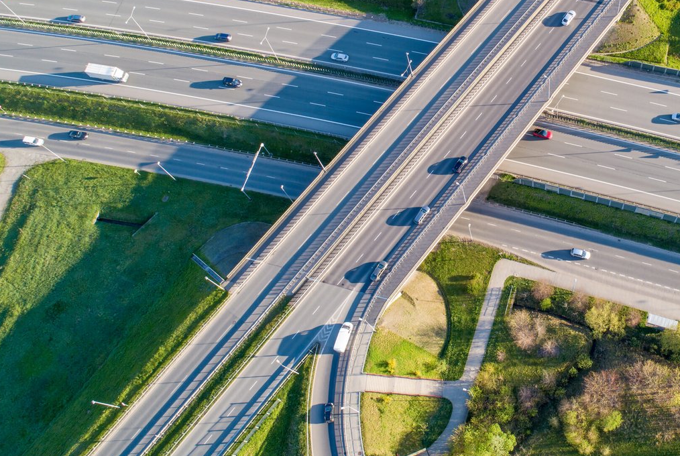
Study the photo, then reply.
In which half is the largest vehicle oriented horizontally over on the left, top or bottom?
top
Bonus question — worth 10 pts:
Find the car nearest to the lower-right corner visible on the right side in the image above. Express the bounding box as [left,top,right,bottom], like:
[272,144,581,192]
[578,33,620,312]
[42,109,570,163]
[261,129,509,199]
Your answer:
[570,247,590,260]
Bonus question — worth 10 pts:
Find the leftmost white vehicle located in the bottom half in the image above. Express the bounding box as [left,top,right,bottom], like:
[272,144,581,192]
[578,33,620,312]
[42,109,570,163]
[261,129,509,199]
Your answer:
[331,322,352,354]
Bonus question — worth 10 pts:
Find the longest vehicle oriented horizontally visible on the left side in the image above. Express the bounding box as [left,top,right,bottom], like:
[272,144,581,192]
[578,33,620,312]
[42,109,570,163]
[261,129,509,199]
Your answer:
[83,61,127,81]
